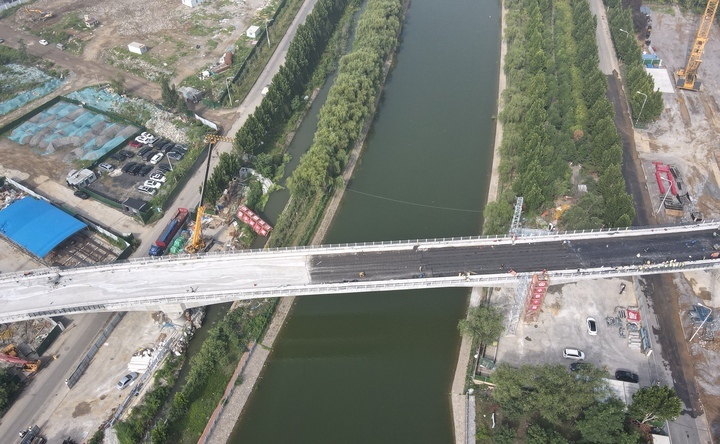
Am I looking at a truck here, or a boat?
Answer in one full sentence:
Visible in the photo is a truck.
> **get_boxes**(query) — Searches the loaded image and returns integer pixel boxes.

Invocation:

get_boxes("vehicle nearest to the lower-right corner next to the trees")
[615,368,639,383]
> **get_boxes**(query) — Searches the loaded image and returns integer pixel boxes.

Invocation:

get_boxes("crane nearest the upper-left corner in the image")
[175,133,242,253]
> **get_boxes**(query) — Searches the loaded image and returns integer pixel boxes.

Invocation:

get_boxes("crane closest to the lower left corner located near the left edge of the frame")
[0,353,45,379]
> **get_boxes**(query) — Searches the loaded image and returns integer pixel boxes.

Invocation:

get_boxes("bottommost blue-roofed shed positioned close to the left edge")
[0,196,93,269]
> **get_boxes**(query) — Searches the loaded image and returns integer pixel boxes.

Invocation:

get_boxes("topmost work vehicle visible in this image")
[29,4,53,20]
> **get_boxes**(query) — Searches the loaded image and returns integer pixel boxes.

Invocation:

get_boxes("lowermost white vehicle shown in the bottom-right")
[562,348,586,361]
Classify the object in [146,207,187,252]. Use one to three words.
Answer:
truck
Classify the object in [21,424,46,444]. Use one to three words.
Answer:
vehicle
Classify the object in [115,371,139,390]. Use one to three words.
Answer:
car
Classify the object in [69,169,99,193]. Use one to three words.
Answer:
building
